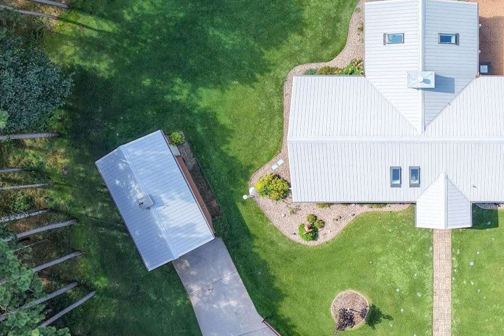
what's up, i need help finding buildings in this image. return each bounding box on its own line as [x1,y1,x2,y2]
[94,130,217,272]
[286,0,504,230]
